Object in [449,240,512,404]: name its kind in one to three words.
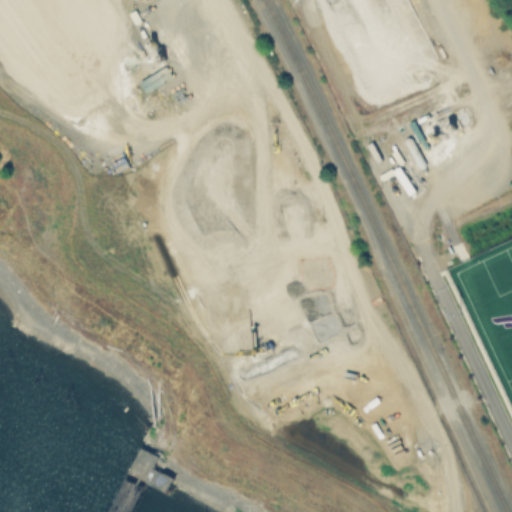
sports field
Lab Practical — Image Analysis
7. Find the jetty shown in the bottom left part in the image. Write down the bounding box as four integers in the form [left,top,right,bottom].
[104,449,174,512]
